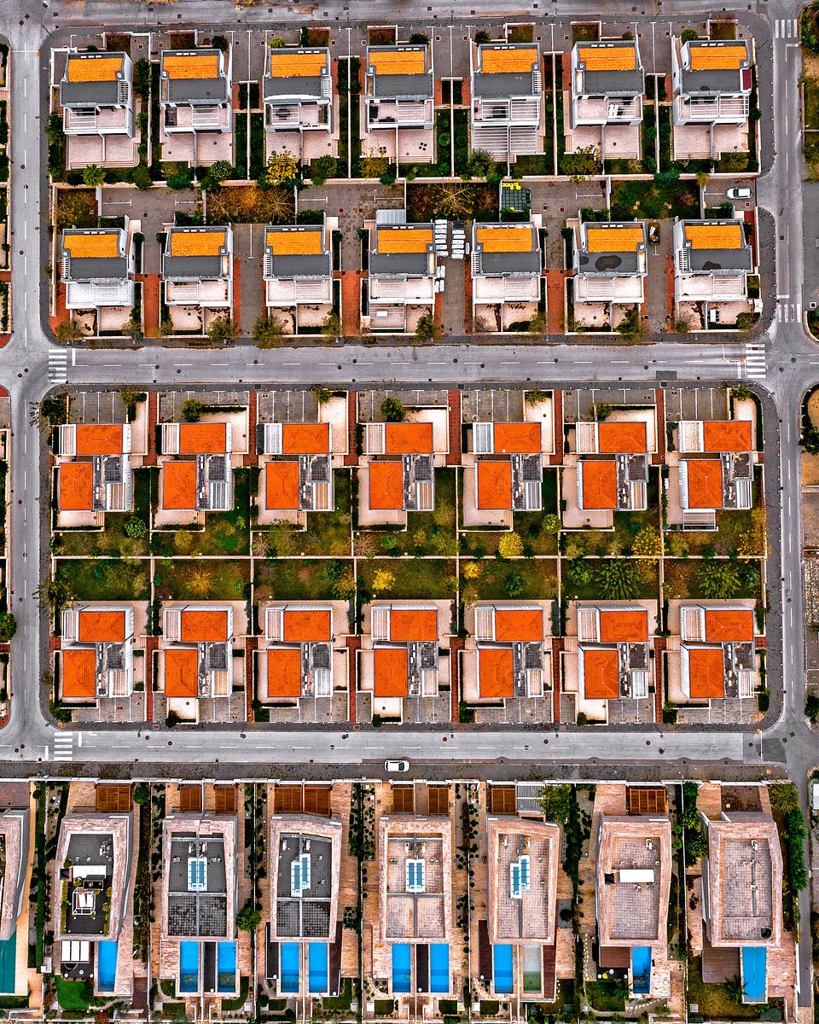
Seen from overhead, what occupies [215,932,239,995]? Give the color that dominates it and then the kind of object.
blue swimming pool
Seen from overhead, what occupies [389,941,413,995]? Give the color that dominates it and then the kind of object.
blue swimming pool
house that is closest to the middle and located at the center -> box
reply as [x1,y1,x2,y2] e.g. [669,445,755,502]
[355,422,440,527]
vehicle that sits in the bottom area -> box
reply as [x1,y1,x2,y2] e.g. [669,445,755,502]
[385,761,408,773]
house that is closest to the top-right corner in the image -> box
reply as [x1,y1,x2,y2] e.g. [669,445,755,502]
[676,40,750,158]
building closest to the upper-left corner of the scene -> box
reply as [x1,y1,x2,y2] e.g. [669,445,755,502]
[61,52,139,170]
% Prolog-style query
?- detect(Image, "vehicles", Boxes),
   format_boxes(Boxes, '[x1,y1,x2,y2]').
[385,761,408,773]
[728,187,752,198]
